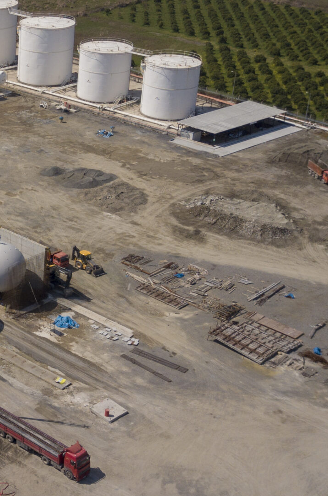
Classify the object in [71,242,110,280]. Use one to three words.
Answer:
work vehicle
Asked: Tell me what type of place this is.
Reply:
industrial area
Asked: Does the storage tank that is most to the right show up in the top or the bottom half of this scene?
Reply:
top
